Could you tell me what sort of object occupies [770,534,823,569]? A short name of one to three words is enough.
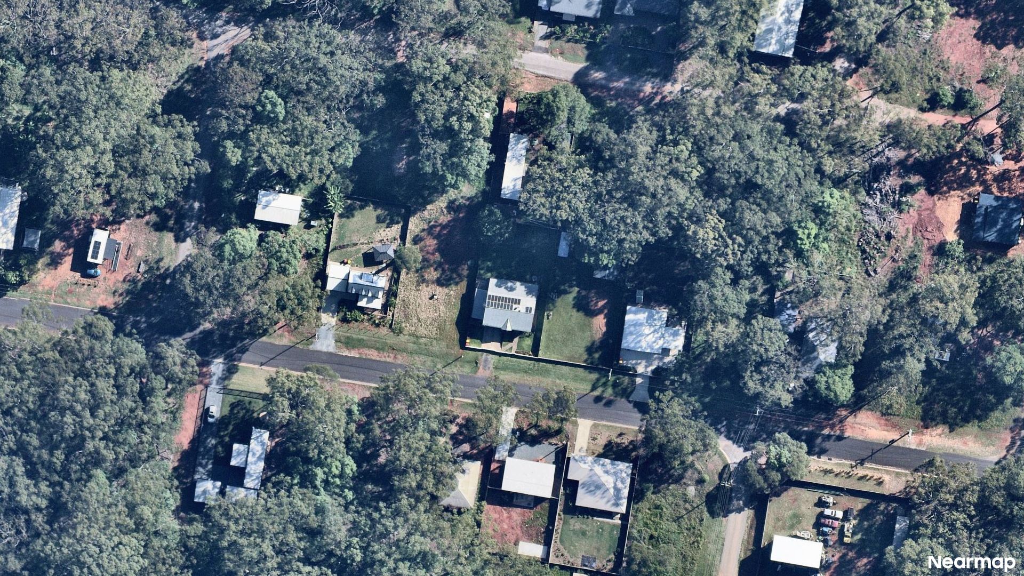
shed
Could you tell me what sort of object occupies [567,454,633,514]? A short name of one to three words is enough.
house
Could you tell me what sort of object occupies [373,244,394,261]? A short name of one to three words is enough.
gazebo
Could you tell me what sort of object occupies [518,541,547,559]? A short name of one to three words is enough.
shed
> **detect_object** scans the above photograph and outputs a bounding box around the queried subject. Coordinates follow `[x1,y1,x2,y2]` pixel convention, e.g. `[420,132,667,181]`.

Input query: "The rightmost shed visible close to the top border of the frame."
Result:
[754,0,804,57]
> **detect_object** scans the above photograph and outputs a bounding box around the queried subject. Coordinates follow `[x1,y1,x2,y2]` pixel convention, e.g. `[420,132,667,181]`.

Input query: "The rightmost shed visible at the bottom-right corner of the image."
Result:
[893,516,909,547]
